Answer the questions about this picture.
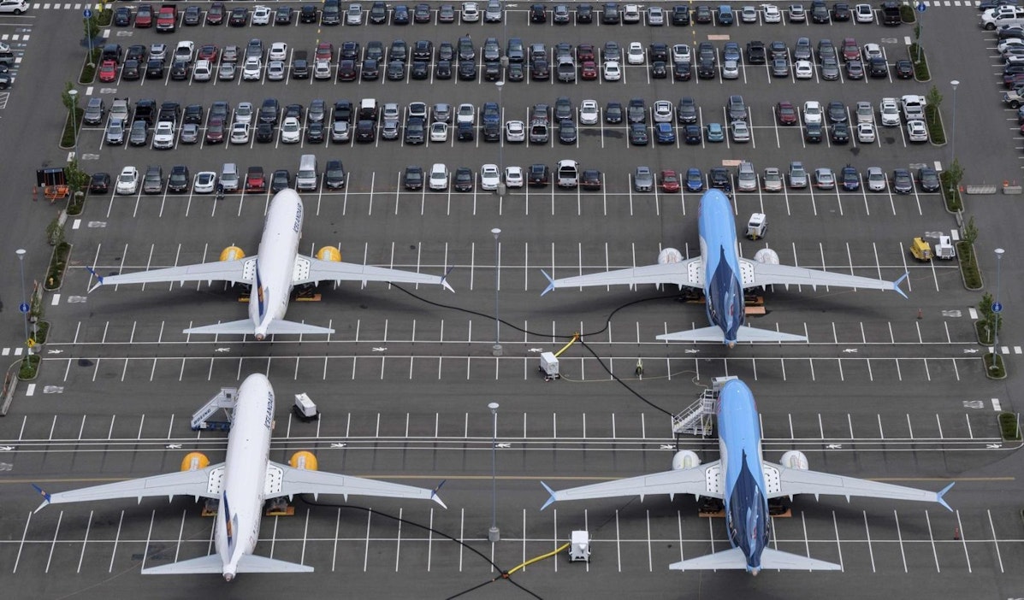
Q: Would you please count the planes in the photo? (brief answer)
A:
four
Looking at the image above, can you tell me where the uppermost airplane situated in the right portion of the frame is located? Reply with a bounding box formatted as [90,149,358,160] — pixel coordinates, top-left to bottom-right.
[539,190,910,349]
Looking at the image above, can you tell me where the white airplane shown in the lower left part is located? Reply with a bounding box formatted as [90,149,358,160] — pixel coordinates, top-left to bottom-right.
[32,373,448,585]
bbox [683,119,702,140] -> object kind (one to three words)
car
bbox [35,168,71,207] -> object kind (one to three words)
trailer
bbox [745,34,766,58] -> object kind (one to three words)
vehicle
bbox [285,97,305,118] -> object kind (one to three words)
car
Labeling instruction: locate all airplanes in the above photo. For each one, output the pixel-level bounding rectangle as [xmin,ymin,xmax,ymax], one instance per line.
[539,379,956,580]
[87,188,455,344]
[32,373,448,585]
[539,190,910,349]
